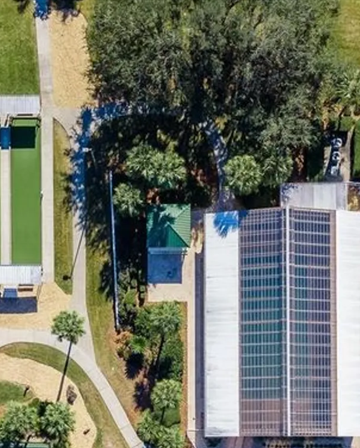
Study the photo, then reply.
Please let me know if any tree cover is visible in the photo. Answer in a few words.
Yes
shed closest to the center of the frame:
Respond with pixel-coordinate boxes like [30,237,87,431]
[147,204,191,284]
